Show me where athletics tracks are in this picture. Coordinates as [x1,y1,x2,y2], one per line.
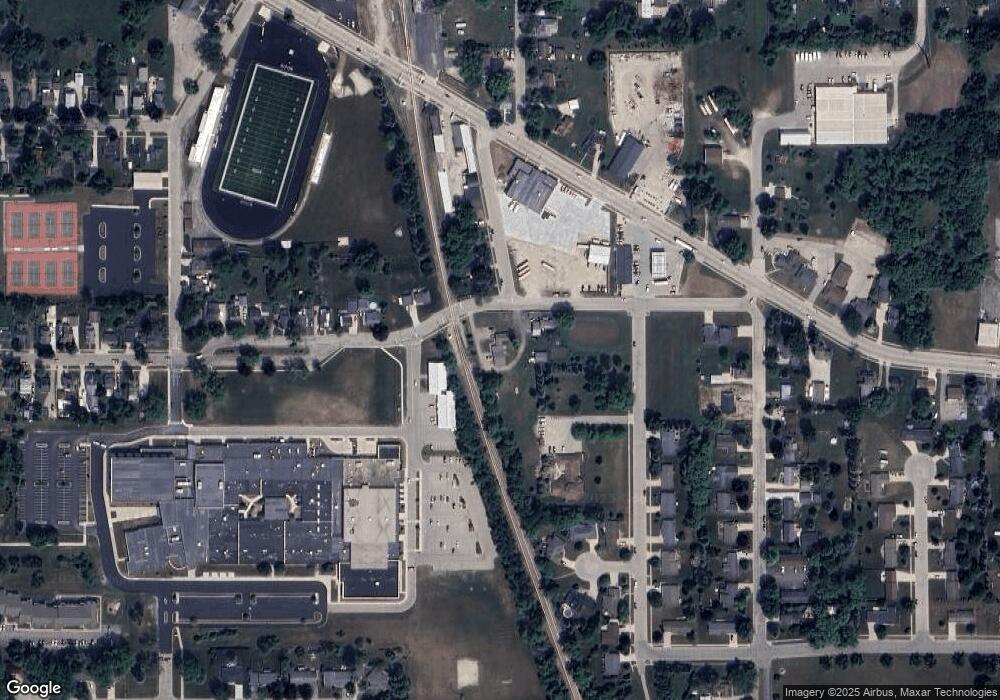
[202,14,330,239]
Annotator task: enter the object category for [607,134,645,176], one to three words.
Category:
building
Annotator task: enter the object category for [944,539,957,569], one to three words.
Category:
house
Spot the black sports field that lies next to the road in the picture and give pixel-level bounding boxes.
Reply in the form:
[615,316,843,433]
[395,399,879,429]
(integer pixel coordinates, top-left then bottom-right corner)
[202,14,330,239]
